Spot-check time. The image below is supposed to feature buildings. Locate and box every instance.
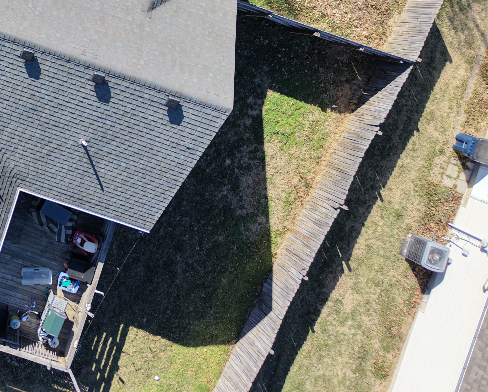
[0,0,239,248]
[383,192,488,392]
